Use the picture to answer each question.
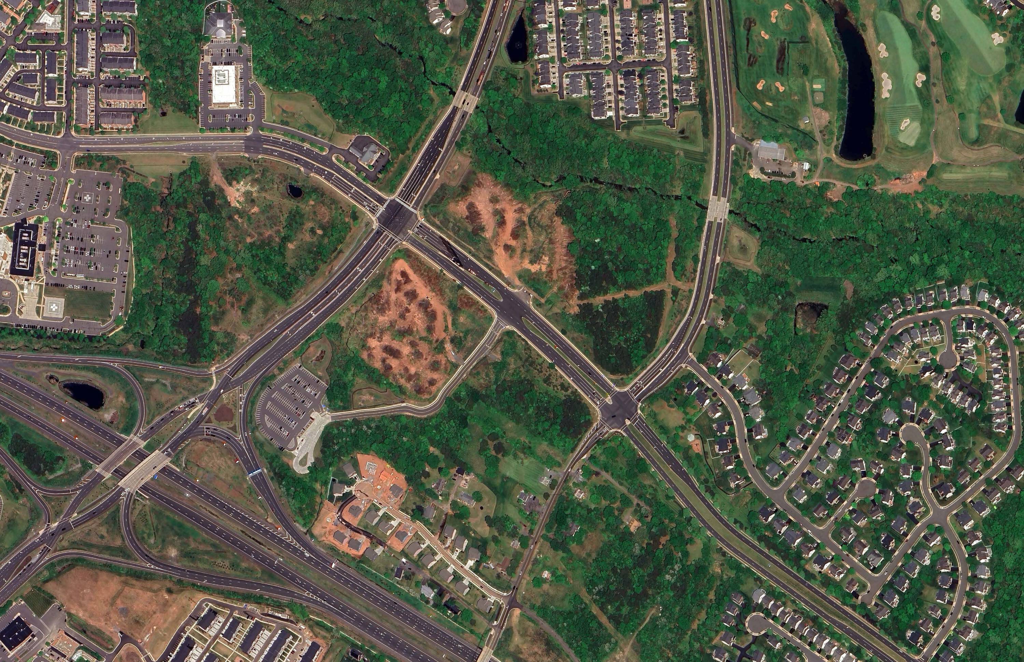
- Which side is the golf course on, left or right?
right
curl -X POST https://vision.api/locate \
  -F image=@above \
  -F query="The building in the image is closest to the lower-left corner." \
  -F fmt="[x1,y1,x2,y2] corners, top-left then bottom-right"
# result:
[0,616,34,652]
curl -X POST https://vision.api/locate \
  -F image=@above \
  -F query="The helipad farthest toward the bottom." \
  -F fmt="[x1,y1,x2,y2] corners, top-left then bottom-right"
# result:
[43,297,65,318]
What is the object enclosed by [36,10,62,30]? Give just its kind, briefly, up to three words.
building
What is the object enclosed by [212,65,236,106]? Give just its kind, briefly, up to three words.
building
